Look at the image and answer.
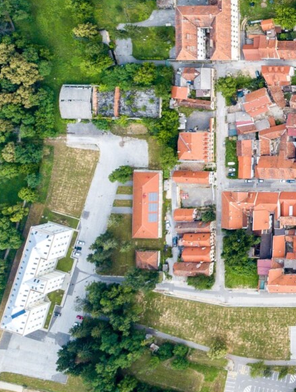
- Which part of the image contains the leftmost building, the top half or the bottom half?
bottom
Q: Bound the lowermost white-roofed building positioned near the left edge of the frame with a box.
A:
[0,222,70,336]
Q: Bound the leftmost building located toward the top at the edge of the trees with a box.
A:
[59,84,96,119]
